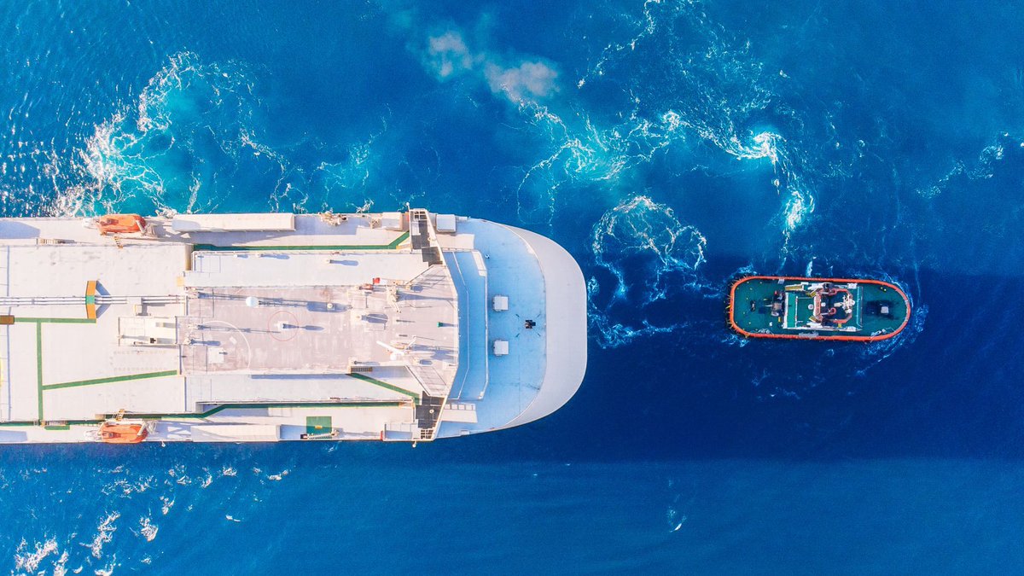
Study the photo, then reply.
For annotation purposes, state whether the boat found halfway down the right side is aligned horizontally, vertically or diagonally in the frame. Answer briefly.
horizontally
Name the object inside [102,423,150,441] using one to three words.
boat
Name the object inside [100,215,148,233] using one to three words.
boat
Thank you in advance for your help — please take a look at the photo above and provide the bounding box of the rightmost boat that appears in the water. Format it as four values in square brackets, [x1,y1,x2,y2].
[725,274,910,342]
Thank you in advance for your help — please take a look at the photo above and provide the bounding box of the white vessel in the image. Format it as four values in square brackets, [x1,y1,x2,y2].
[0,201,588,449]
